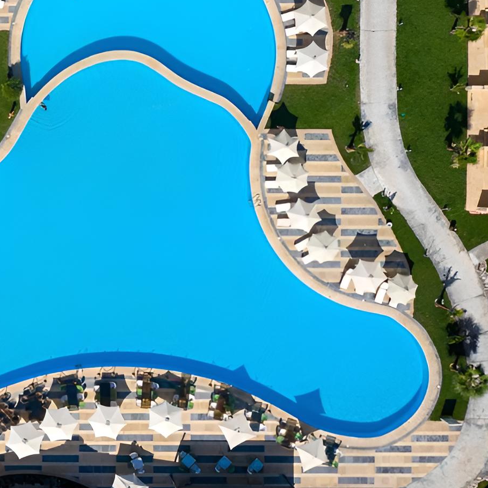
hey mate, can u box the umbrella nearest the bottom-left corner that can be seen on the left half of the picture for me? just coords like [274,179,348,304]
[7,417,44,457]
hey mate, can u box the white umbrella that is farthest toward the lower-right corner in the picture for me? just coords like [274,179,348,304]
[289,434,325,469]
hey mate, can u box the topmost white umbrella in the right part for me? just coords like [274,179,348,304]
[291,0,328,38]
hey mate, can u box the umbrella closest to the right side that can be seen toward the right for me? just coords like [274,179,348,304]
[384,270,421,307]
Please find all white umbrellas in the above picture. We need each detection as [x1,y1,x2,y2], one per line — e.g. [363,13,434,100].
[295,38,330,78]
[289,434,325,469]
[272,159,312,196]
[41,401,79,441]
[286,193,323,233]
[88,399,125,438]
[7,417,44,457]
[267,125,301,161]
[347,253,385,295]
[291,0,328,38]
[301,227,341,266]
[215,406,256,447]
[147,394,183,436]
[384,270,421,307]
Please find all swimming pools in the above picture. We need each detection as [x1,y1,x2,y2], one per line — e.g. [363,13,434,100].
[0,61,427,435]
[21,0,275,125]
